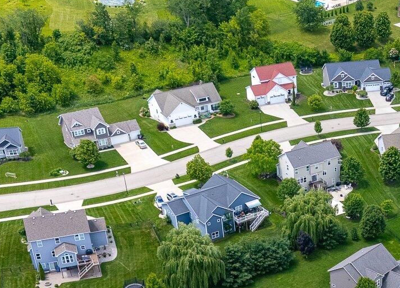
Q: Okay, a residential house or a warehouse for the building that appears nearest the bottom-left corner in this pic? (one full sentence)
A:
What you see as the building that appears nearest the bottom-left corner is a residential house.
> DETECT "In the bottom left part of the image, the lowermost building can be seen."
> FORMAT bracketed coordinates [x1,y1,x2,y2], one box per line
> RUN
[24,202,109,277]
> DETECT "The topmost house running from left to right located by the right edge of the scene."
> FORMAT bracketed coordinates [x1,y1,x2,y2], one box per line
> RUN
[321,60,391,92]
